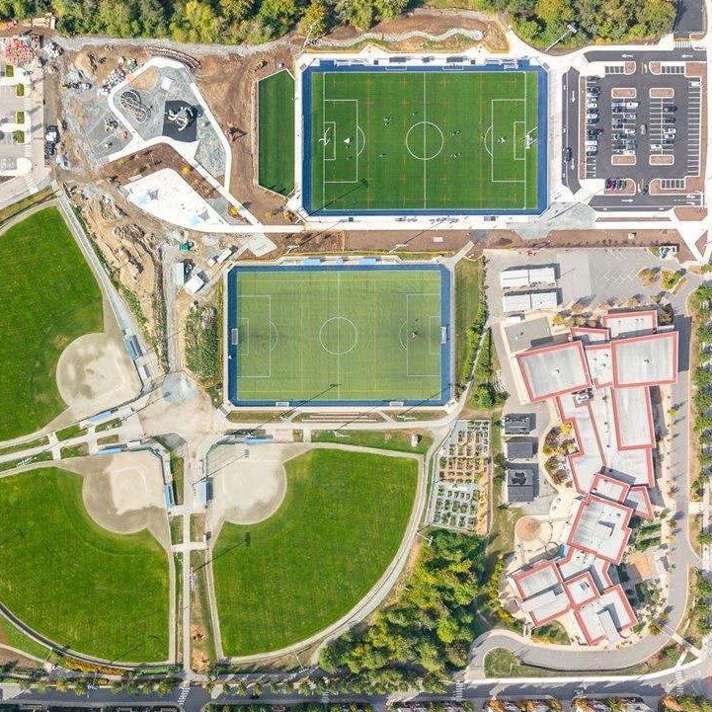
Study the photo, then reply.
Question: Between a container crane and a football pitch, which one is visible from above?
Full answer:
I can see a football pitch in this picture.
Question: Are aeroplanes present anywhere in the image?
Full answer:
No, I can see no aeroplane in this picture.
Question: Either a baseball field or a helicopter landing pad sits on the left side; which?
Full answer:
Looking on the left side, you will find a baseball field.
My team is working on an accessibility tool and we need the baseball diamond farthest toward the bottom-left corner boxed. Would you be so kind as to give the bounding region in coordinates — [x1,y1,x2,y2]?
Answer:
[0,443,174,670]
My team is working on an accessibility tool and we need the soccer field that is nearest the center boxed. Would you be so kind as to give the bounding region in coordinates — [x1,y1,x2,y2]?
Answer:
[228,265,450,406]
